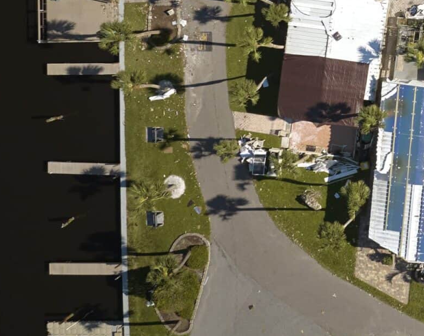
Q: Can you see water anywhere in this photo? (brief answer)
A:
Yes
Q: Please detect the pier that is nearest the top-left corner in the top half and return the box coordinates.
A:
[47,64,118,77]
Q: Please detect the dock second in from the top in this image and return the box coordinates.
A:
[48,161,120,178]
